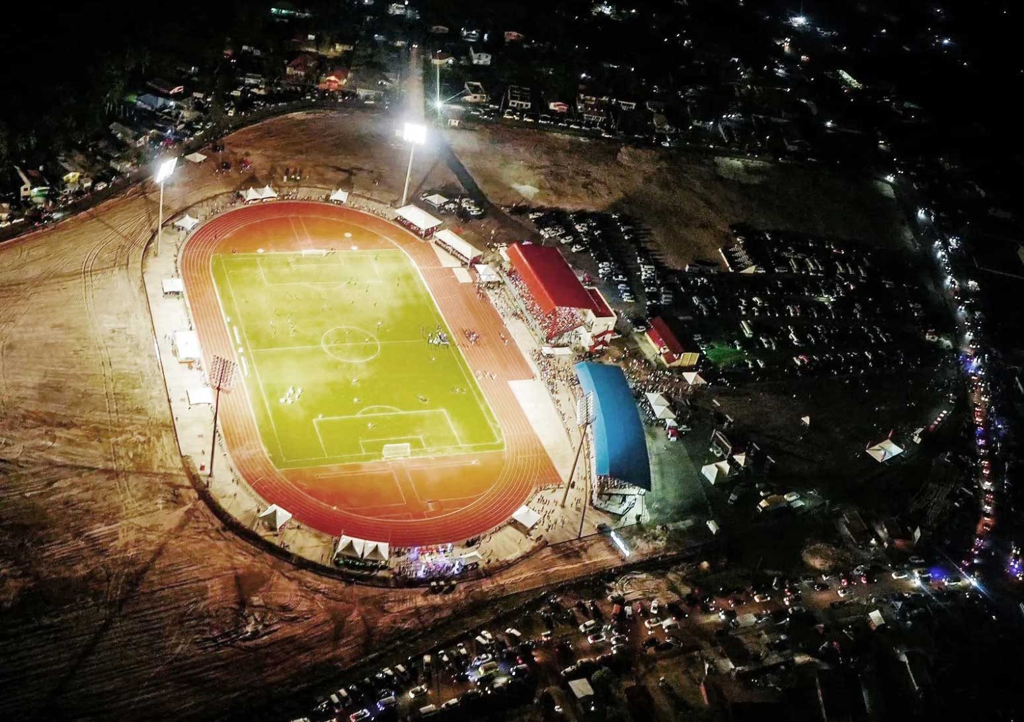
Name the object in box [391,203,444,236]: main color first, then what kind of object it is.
white tent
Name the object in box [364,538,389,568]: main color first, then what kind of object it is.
white tent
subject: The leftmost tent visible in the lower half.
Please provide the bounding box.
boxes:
[256,504,294,534]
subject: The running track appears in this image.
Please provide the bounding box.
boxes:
[180,201,540,546]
